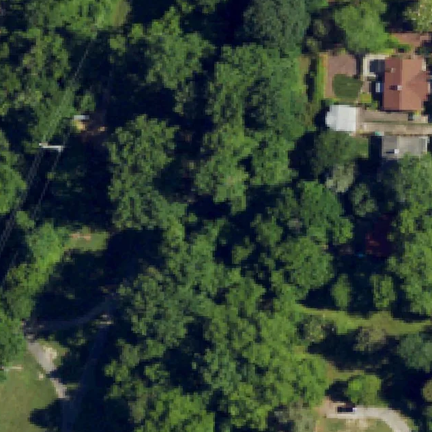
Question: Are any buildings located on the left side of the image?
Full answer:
No, no building can be made out on the left side of the image.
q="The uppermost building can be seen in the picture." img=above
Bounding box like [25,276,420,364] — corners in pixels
[384,58,431,110]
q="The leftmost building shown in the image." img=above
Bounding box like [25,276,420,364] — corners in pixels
[325,105,358,130]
